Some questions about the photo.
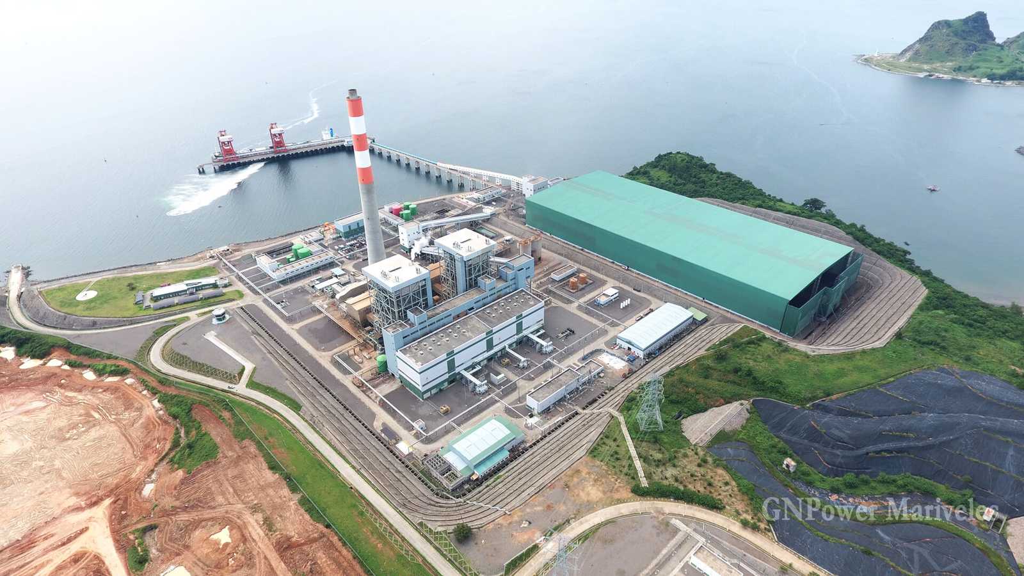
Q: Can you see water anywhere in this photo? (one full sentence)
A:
Yes, the picture does contain water.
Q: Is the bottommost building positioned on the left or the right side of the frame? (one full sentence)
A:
It is on the right.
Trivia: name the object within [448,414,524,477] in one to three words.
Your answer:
building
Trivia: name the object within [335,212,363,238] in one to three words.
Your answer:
building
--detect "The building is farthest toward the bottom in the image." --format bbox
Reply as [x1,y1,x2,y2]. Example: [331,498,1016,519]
[673,529,753,576]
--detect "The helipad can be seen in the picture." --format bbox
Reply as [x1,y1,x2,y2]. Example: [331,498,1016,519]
[73,289,100,301]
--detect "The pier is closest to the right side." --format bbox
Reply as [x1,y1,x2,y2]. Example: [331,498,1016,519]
[368,141,486,188]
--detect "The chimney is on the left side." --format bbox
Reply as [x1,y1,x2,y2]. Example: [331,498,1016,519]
[345,89,385,266]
